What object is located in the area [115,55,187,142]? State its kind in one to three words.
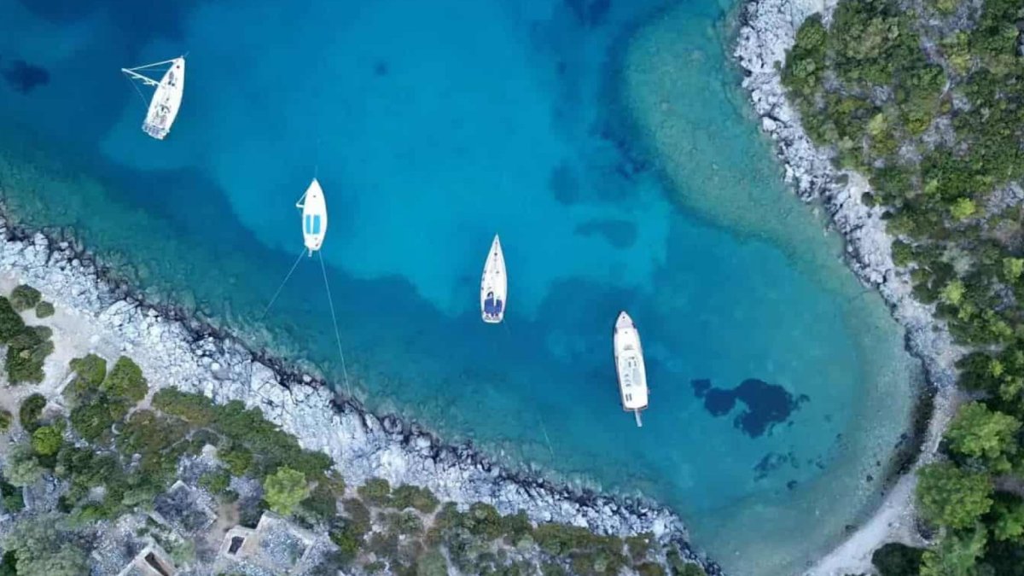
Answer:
boat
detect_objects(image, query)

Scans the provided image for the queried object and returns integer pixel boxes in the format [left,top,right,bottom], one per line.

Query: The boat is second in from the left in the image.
[296,177,328,261]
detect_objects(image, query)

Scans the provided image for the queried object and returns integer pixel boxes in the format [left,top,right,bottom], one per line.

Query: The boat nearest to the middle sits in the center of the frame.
[482,233,508,322]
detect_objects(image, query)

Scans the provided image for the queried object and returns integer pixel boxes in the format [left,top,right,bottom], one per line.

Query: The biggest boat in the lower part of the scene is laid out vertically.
[611,311,647,425]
